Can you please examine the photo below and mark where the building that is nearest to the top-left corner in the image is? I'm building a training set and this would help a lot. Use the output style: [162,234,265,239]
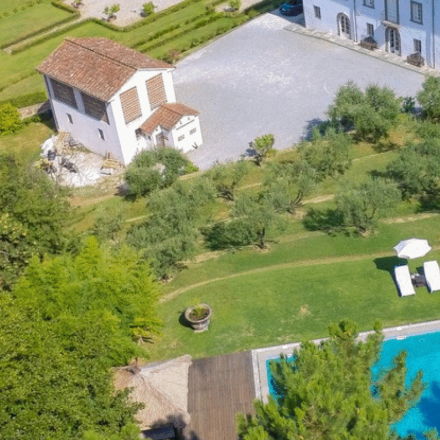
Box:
[35,36,204,164]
